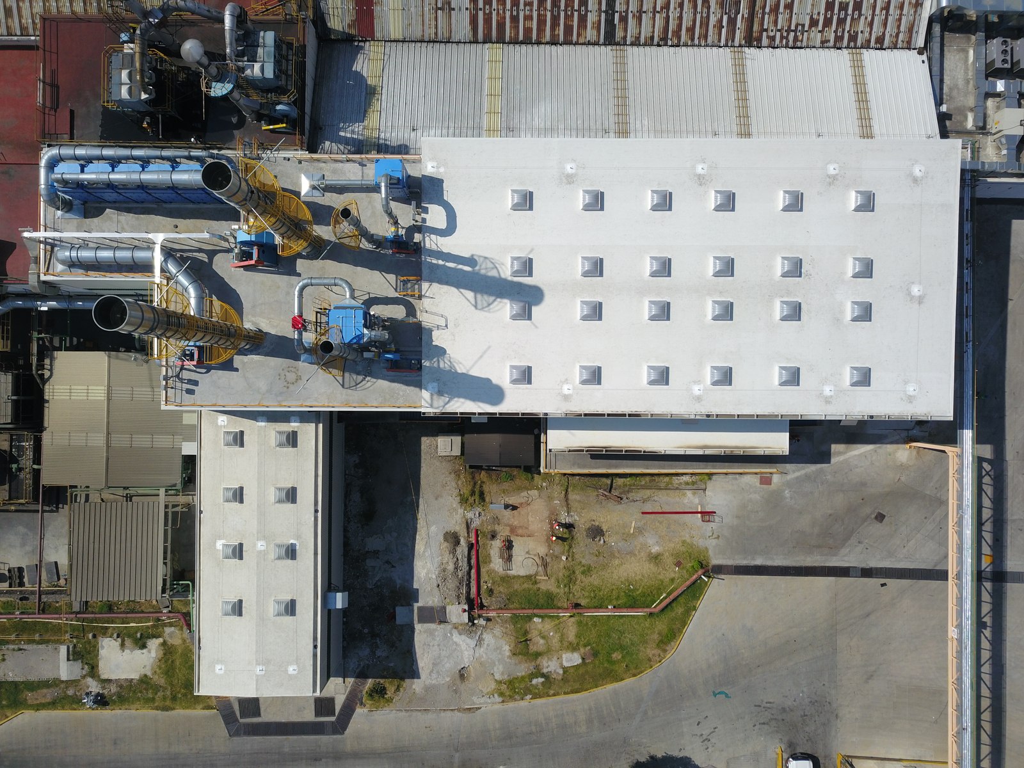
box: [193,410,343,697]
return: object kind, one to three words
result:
building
